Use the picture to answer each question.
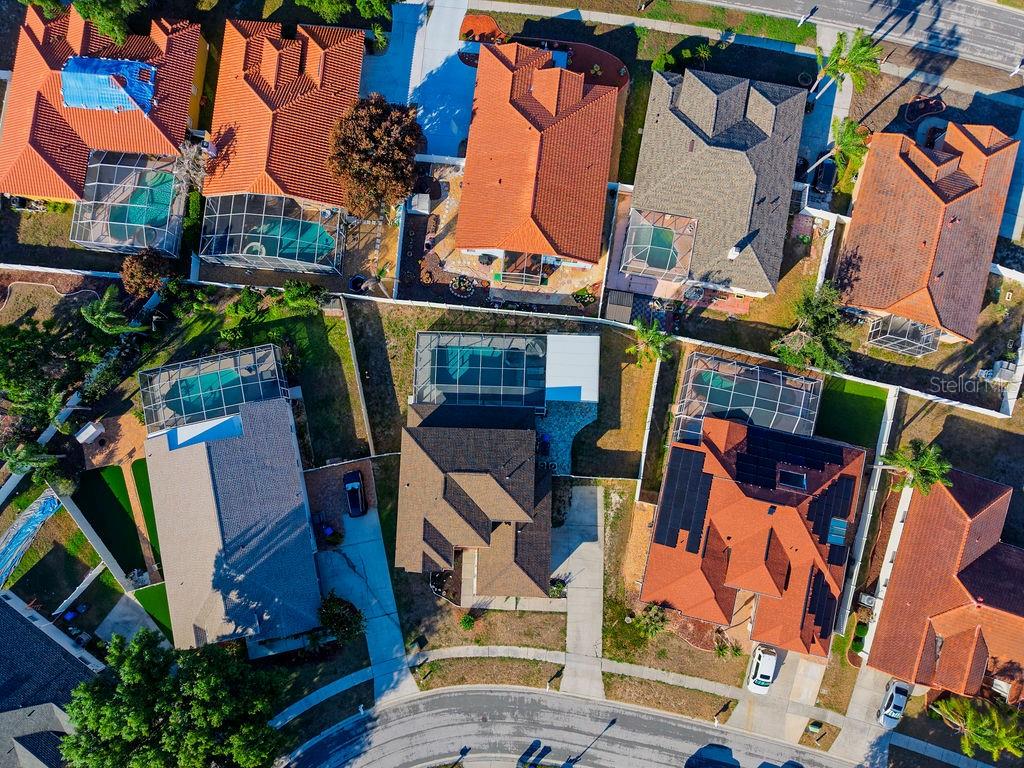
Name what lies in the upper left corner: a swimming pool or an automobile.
swimming pool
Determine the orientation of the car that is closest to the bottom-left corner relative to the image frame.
from top to bottom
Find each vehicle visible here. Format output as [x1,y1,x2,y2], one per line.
[873,676,910,731]
[339,468,367,520]
[745,642,779,696]
[813,153,835,199]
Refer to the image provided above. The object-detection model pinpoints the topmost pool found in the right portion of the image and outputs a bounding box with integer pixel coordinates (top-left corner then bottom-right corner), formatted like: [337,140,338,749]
[630,225,680,269]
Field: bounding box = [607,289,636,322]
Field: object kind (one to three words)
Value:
shed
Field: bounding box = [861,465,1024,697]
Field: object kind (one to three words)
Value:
house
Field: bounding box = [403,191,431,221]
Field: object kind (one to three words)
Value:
shed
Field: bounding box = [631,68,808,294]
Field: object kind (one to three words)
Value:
house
